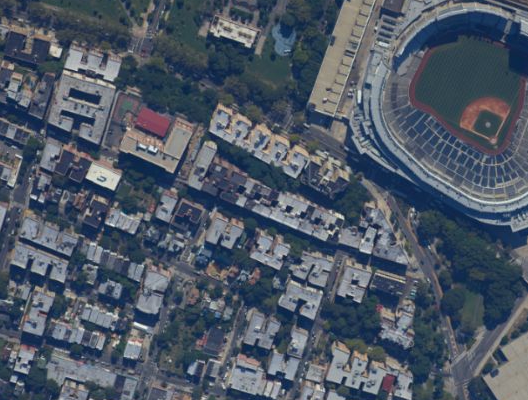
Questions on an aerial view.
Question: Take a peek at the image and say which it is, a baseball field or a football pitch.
baseball field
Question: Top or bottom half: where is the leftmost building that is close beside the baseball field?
top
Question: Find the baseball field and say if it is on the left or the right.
right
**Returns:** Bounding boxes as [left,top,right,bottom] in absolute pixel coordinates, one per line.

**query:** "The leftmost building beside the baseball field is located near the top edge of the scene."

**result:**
[309,0,376,117]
